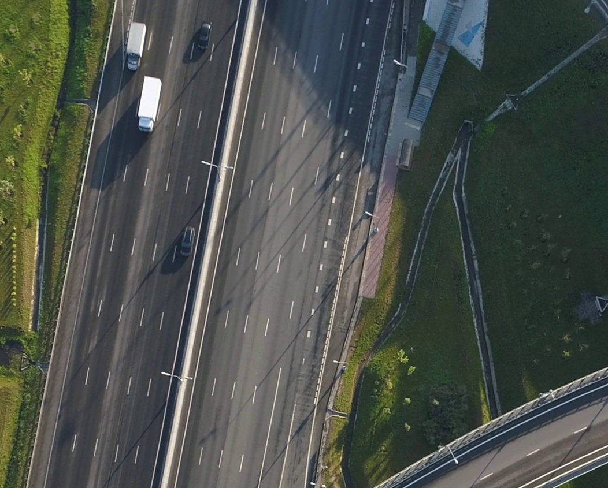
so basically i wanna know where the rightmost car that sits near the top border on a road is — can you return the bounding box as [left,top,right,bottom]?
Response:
[196,21,210,48]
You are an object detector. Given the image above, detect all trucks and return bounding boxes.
[122,17,144,70]
[134,72,160,131]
